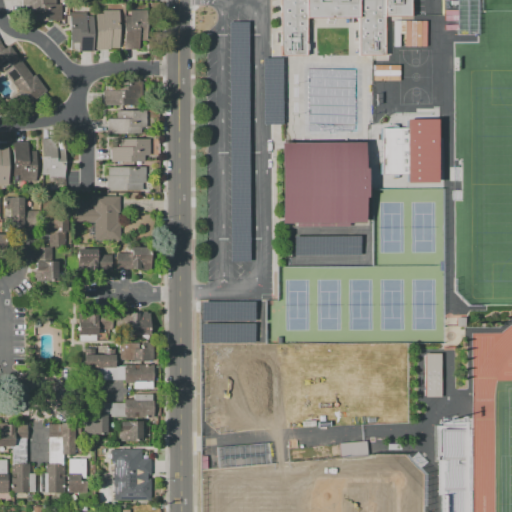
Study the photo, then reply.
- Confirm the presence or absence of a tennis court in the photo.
Yes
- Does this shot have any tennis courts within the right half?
Yes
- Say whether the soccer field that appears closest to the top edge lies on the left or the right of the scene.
right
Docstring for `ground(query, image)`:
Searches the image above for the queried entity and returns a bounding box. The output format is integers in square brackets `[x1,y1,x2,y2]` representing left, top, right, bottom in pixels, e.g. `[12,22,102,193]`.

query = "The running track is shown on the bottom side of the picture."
[473,326,512,512]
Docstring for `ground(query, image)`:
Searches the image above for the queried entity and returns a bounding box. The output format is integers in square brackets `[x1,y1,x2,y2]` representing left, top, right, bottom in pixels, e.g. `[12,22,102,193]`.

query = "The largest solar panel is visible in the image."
[230,20,251,261]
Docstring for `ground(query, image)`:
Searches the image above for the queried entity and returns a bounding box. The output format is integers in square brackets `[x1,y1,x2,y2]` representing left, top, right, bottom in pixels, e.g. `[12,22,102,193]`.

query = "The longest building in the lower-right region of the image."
[424,353,444,398]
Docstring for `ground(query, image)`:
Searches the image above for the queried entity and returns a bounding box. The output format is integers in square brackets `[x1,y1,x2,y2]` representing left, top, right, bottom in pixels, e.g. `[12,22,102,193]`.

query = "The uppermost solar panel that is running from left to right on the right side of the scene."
[296,236,363,255]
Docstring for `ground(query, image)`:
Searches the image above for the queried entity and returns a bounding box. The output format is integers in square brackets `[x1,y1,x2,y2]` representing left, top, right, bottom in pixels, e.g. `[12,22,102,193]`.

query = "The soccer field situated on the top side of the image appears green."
[456,0,512,304]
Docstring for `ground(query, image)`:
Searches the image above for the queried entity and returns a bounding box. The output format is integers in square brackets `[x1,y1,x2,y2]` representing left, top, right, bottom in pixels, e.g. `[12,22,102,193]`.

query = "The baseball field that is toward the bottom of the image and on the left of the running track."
[350,454,425,512]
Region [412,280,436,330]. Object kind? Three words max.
tennis court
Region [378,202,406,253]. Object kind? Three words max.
tennis court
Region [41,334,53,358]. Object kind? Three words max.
swimming pool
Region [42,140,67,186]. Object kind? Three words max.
house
